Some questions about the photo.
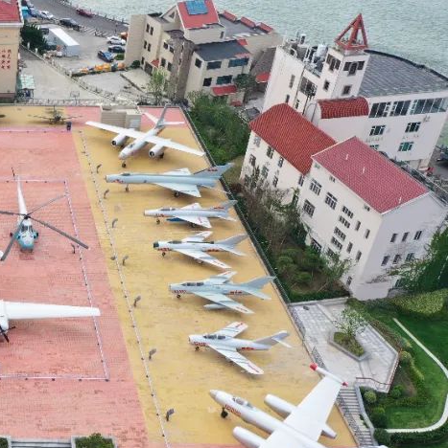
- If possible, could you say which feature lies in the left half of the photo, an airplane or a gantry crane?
airplane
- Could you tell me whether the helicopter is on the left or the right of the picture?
left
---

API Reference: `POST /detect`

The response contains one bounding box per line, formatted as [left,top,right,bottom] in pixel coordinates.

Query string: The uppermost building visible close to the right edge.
[303,11,448,170]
